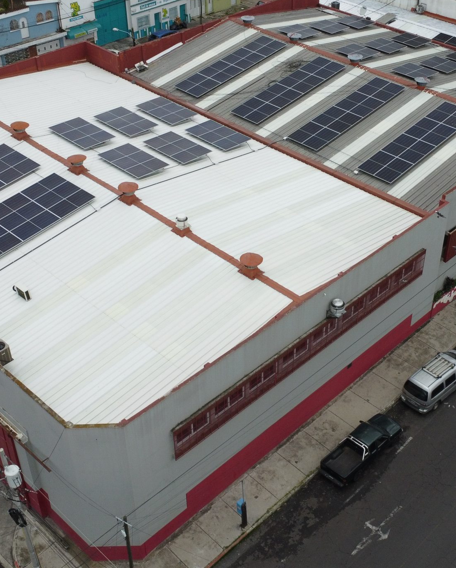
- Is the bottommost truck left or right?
right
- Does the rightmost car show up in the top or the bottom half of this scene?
bottom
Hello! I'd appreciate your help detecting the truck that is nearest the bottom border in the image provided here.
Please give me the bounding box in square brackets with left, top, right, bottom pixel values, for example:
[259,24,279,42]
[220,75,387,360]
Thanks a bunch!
[315,411,406,495]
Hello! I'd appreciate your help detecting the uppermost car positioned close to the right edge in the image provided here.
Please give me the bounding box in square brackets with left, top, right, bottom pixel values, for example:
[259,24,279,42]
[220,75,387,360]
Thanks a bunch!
[400,349,456,416]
